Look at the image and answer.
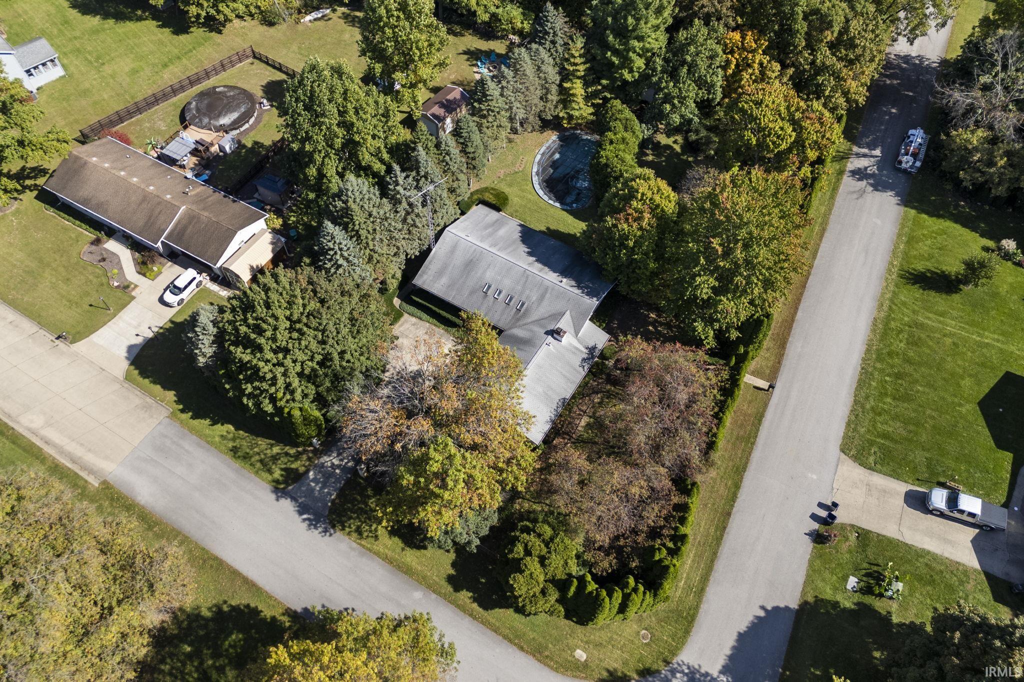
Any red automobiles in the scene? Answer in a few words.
No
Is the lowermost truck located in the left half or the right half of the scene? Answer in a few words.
right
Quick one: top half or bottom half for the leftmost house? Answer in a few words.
top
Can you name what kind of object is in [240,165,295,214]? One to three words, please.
gazebo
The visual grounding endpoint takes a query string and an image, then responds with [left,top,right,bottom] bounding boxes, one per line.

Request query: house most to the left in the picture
[0,35,71,94]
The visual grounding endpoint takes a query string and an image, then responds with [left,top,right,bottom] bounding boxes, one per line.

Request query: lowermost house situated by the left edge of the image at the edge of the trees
[42,137,272,287]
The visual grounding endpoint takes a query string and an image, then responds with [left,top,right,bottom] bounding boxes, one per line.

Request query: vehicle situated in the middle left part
[158,268,204,310]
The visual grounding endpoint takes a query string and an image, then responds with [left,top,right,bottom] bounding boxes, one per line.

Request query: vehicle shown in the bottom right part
[926,488,1013,536]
